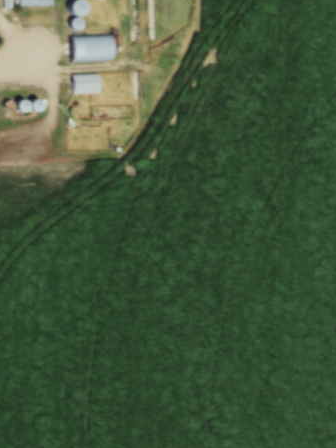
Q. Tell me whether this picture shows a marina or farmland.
farmland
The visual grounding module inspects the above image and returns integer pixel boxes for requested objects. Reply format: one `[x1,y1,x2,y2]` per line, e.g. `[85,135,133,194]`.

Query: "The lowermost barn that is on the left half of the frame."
[74,73,102,95]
